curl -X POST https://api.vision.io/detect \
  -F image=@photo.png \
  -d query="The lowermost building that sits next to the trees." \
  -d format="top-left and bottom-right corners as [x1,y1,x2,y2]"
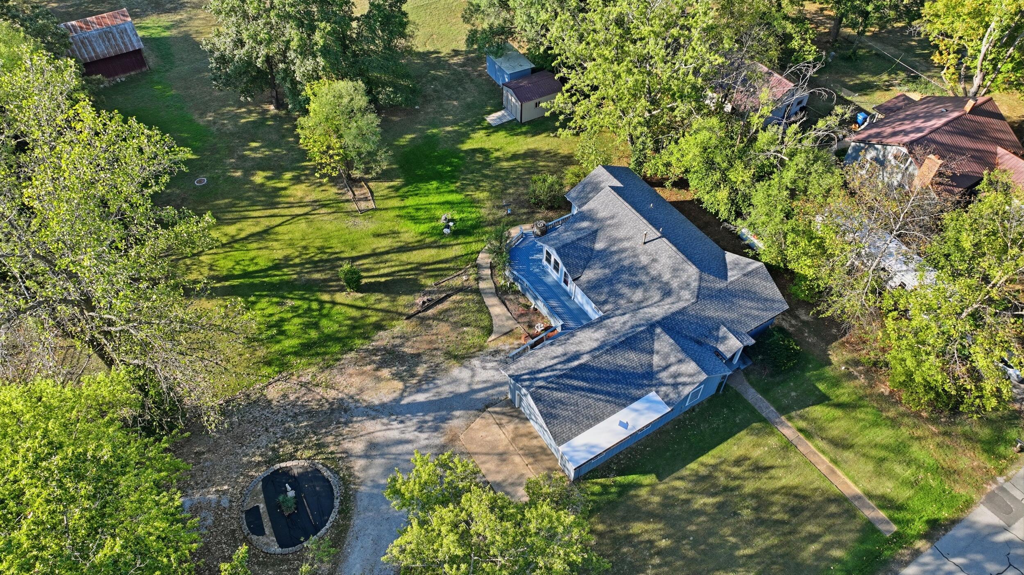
[500,165,790,482]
